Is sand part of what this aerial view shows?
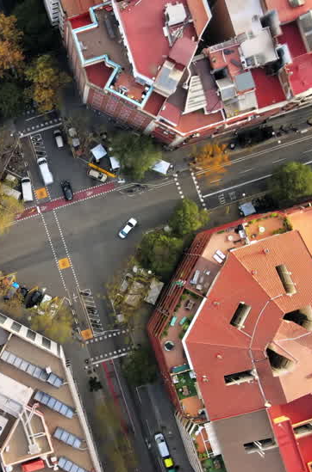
No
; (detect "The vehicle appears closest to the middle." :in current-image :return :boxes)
[117,217,137,238]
